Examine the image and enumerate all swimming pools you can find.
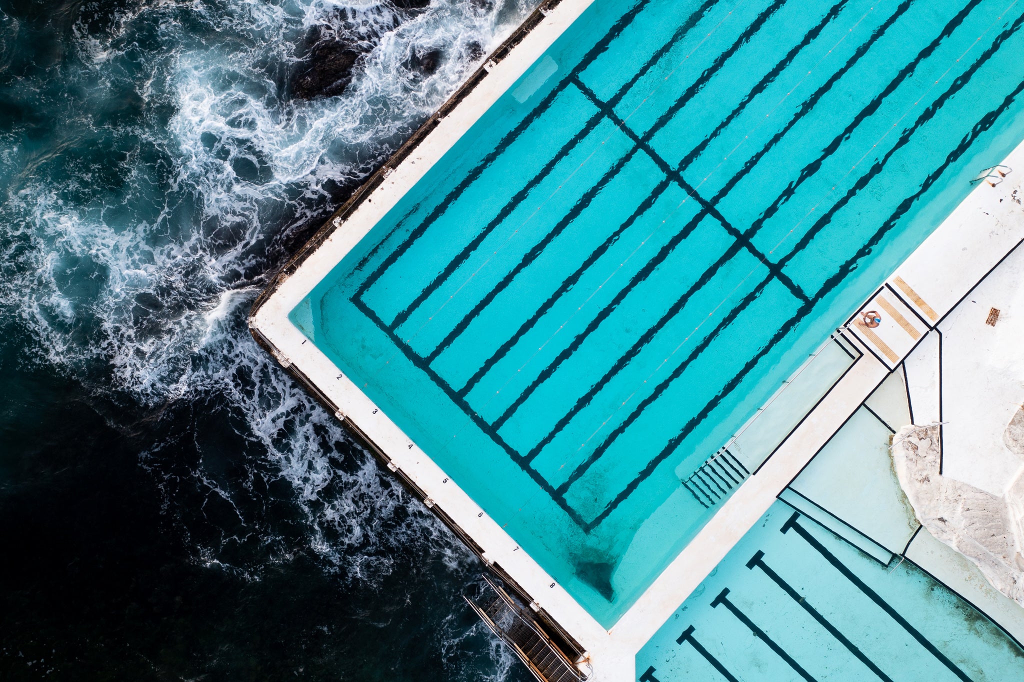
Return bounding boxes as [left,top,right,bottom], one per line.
[290,0,1024,630]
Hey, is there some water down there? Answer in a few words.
Yes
